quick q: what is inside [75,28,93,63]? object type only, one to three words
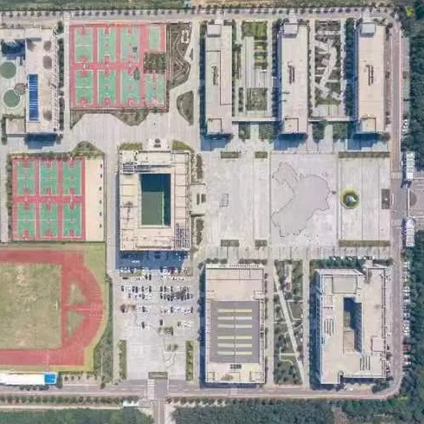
basketball court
